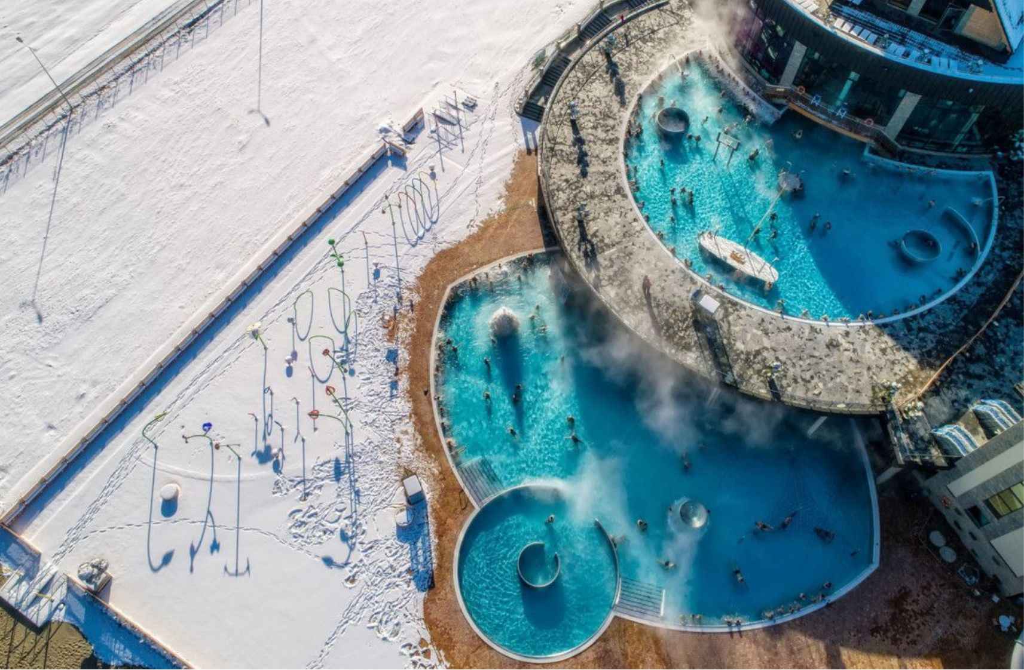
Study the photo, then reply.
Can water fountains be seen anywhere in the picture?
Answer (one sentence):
Yes, looking at the shot, I can spot a water fountain.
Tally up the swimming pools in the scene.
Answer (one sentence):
Looking from above, you can make out 2 swimming pools.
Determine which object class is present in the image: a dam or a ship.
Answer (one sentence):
Visible in the photo is a ship.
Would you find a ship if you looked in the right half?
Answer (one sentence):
Yes, looking in the right half, one can make out a ship.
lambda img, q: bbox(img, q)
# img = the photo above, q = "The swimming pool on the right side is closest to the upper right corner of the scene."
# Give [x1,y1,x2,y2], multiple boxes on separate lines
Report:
[626,55,992,322]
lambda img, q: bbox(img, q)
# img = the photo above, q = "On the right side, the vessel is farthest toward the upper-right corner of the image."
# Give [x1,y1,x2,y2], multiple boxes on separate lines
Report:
[699,166,801,291]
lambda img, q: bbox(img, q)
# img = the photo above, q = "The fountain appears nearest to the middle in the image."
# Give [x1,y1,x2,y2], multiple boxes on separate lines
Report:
[485,311,524,355]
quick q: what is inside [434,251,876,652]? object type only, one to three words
swimming pool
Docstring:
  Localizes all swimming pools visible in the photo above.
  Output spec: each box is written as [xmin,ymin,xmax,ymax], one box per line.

[434,251,876,652]
[626,55,992,322]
